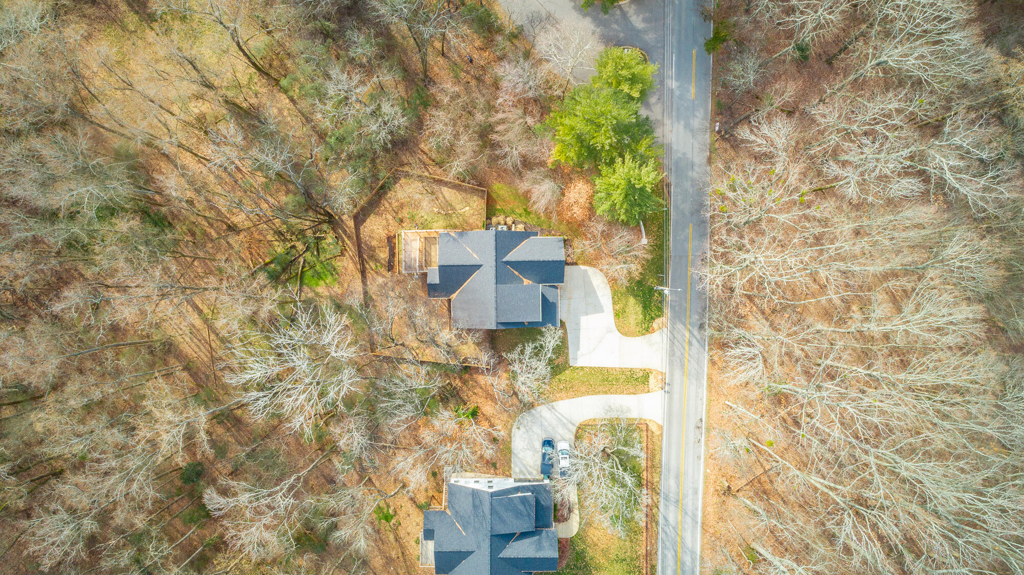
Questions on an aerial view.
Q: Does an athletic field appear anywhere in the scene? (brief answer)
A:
No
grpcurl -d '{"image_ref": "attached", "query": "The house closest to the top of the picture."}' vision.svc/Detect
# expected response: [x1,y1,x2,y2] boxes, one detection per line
[426,230,564,328]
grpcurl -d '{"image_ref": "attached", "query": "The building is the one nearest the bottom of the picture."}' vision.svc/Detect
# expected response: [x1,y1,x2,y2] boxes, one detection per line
[422,478,560,575]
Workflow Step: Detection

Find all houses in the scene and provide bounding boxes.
[426,230,564,328]
[422,478,560,575]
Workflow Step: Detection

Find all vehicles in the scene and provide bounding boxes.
[556,442,571,479]
[541,439,556,476]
